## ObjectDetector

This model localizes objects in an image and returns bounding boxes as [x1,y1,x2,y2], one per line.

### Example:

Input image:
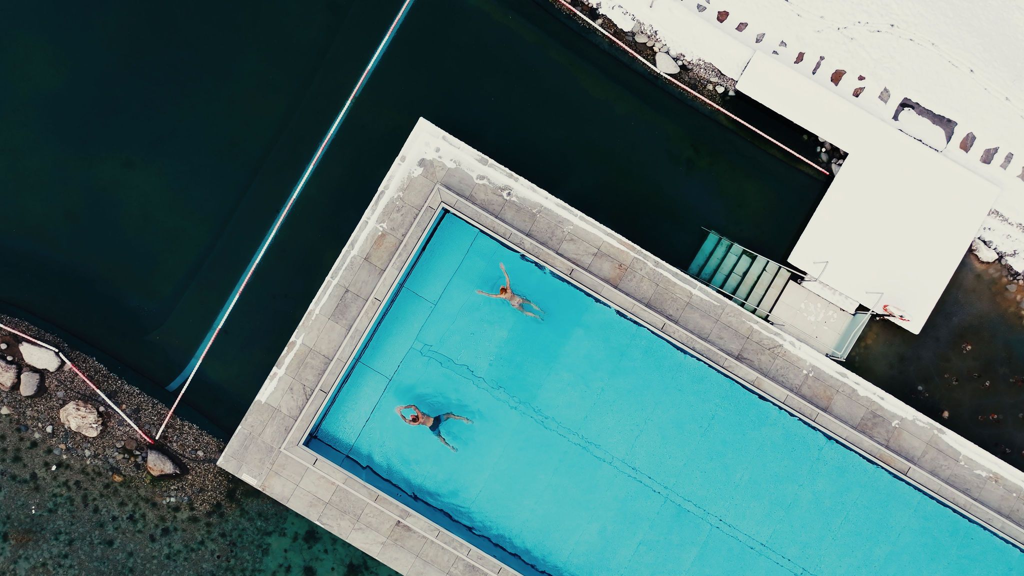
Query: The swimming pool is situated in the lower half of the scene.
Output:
[305,207,1024,576]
